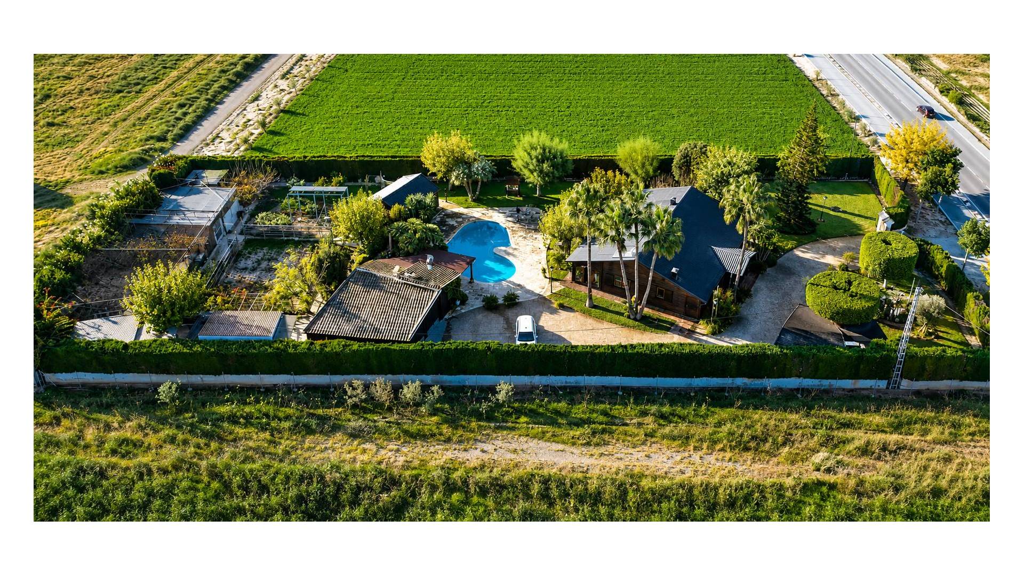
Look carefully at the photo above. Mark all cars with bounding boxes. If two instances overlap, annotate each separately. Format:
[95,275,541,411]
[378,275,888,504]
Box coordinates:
[913,106,938,122]
[514,316,539,347]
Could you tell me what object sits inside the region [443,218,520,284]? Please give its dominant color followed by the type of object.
blue swimming pool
